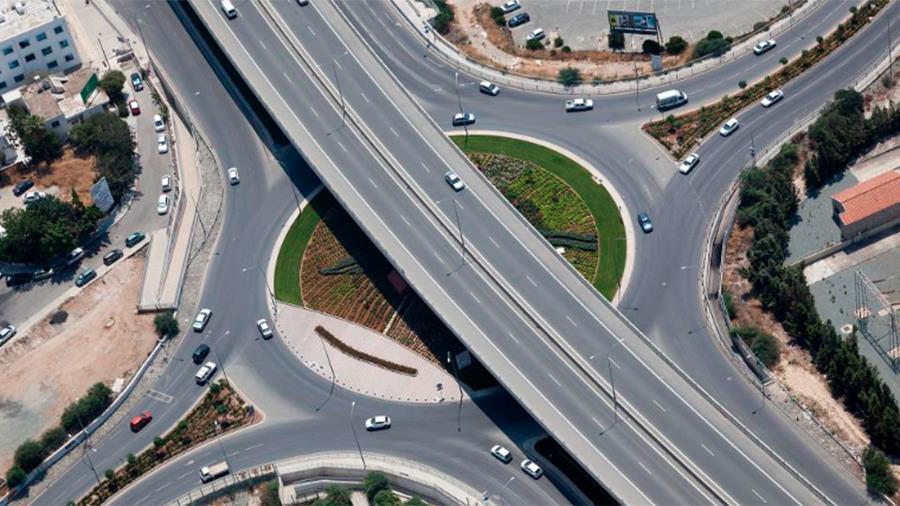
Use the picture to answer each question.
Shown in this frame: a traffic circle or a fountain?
traffic circle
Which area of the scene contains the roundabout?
center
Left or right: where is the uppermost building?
left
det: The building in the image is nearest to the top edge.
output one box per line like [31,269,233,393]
[0,0,82,95]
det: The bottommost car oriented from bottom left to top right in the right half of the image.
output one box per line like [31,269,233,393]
[679,155,700,173]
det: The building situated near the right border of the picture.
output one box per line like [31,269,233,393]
[823,165,900,237]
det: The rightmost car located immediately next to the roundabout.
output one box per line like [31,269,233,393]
[637,213,652,233]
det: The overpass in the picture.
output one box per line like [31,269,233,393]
[173,0,839,506]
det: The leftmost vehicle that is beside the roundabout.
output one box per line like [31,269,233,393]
[256,320,273,340]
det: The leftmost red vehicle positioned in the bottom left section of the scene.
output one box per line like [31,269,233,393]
[129,412,153,431]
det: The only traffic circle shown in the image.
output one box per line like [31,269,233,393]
[266,130,635,403]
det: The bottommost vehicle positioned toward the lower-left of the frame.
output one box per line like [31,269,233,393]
[197,459,233,481]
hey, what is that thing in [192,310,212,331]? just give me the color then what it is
white car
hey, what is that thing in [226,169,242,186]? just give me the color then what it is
white car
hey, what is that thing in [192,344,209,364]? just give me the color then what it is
black car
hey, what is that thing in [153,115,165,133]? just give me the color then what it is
white vehicle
